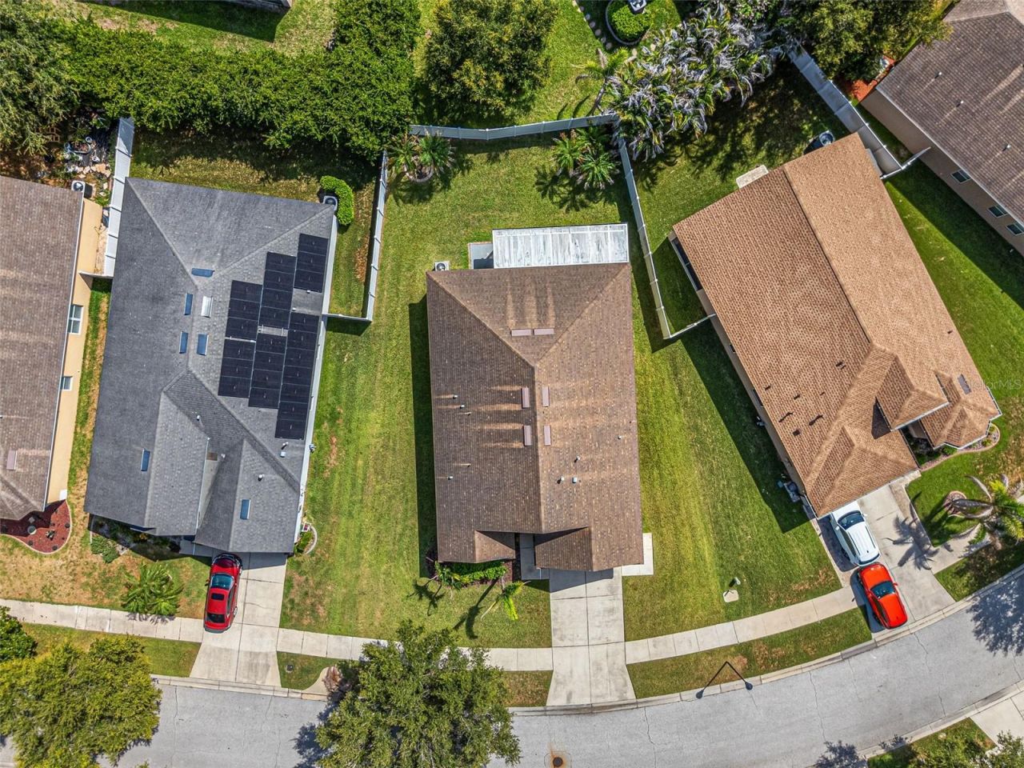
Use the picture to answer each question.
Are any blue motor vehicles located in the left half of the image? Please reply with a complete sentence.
No, the scene shows no blue motor vehicle in the left half of the image.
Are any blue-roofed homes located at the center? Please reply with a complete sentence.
No, I see no blue-roofed home at the center.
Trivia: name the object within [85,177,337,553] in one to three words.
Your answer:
house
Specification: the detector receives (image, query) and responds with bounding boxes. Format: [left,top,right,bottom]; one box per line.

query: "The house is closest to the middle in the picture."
[425,262,642,571]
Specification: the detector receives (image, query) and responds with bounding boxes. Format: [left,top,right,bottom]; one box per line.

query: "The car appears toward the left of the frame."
[203,551,243,633]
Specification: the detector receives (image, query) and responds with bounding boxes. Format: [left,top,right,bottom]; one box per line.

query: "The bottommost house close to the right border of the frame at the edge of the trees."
[672,134,1001,519]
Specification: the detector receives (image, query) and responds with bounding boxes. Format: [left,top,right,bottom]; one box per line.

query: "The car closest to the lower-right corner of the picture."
[858,561,911,632]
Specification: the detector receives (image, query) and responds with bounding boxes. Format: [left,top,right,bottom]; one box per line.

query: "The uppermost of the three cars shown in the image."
[830,499,884,566]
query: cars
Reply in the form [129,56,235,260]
[203,551,243,633]
[830,499,884,566]
[858,561,911,632]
